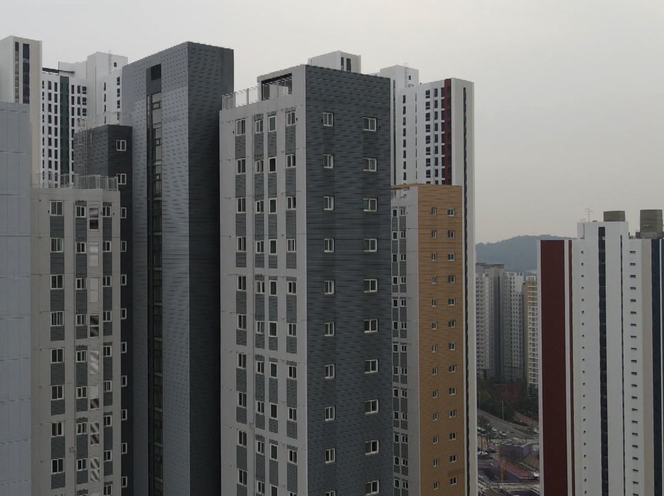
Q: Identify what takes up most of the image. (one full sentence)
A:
The bulk of the photo consists of buildings.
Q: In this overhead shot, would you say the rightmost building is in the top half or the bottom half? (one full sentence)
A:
The rightmost building is in the bottom half of the image.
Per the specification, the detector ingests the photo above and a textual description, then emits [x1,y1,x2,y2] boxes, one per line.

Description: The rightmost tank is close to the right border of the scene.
[639,210,664,235]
